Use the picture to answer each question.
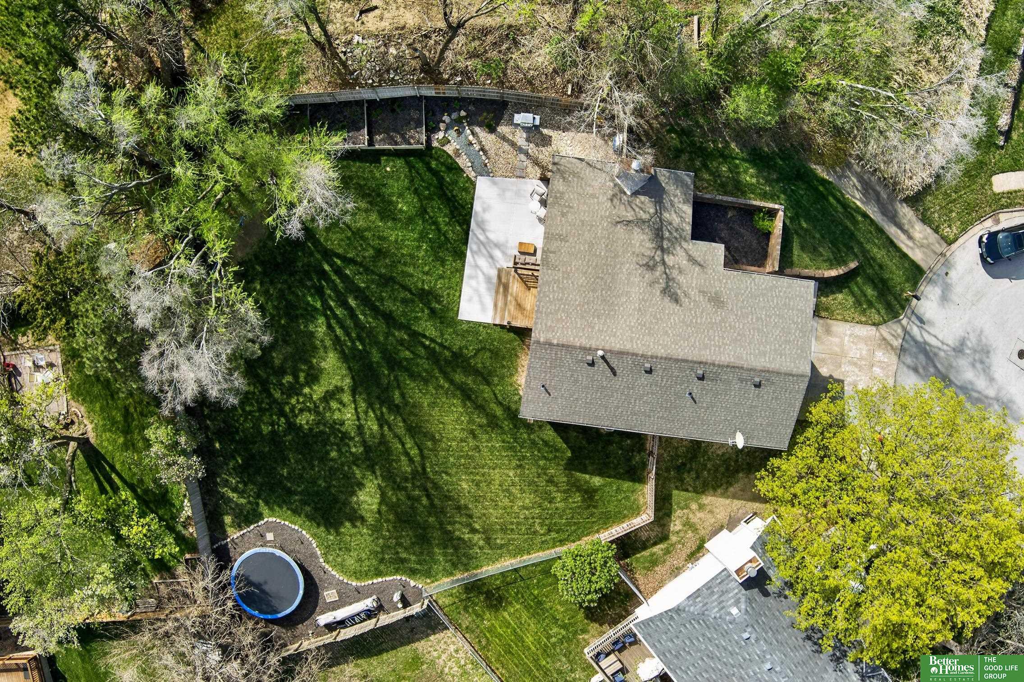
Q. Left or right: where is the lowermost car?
right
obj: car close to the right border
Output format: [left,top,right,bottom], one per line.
[986,225,1024,265]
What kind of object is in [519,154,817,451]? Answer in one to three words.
house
